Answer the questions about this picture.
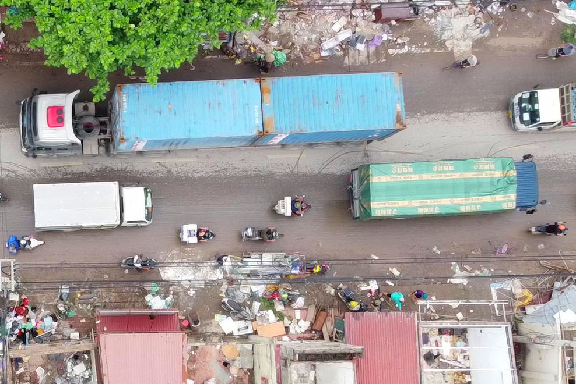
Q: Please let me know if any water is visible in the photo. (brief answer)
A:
No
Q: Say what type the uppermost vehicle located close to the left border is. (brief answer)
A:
truck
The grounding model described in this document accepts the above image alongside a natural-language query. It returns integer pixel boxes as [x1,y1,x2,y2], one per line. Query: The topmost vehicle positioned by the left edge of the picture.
[16,81,157,154]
